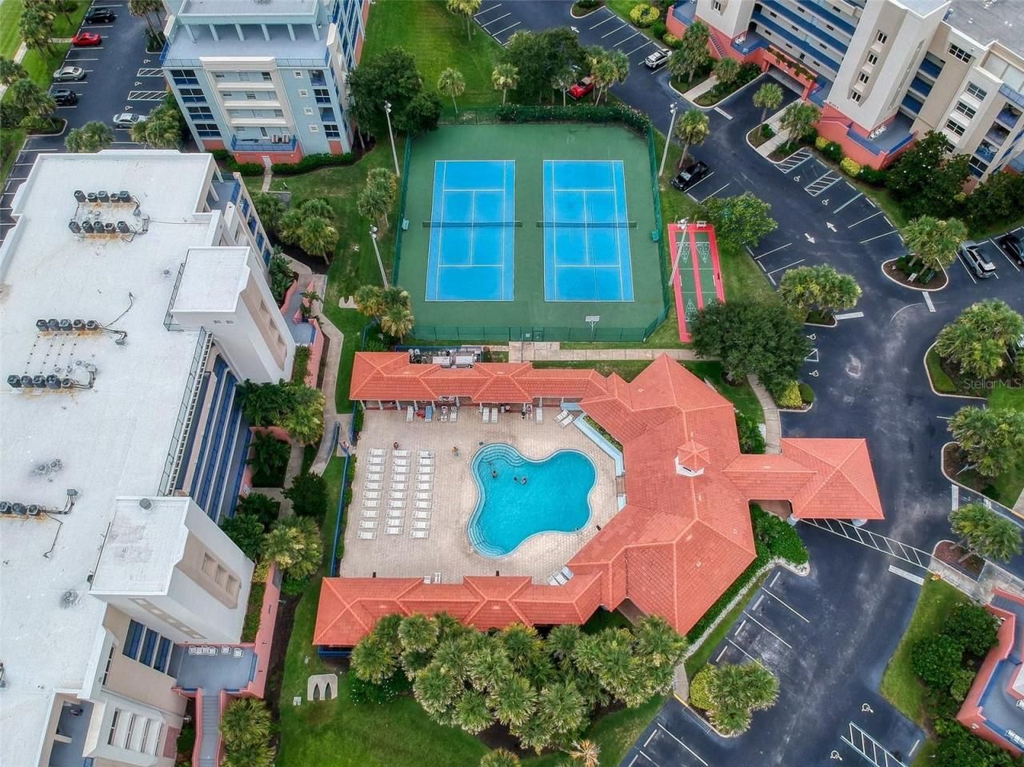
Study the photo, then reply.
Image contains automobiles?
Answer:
Yes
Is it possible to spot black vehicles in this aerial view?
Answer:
Yes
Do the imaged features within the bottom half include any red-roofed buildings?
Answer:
Yes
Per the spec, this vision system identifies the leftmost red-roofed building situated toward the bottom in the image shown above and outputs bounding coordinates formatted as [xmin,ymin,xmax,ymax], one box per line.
[312,351,885,647]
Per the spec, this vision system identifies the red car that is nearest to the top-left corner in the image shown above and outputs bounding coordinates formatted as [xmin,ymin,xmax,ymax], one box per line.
[69,31,99,45]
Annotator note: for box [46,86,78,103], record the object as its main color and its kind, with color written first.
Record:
black car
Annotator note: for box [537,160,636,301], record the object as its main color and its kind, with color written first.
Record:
blue tennis court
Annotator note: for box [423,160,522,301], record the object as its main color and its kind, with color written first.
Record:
blue tennis court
